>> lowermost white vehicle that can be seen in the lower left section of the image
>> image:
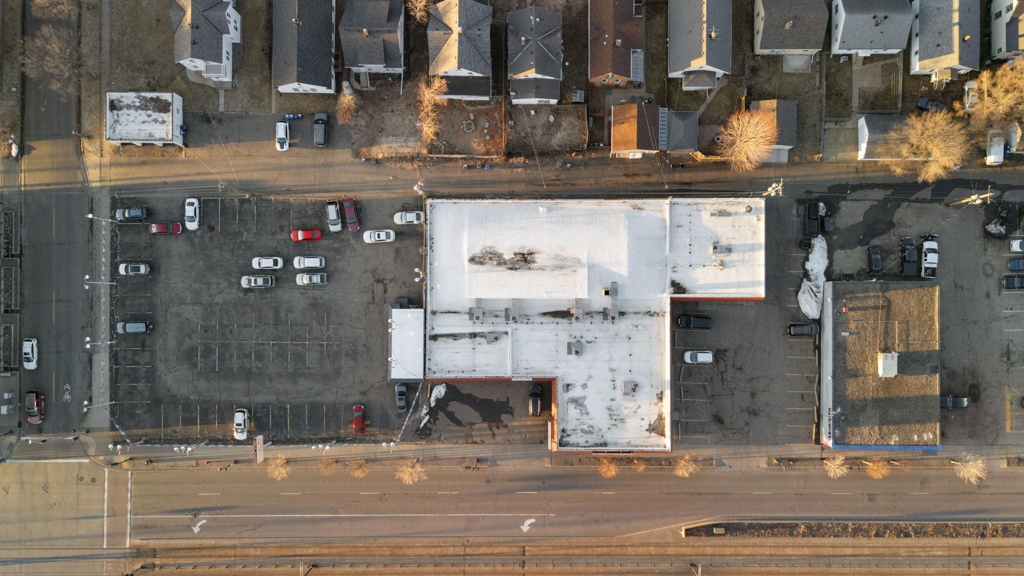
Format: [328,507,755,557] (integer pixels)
[233,408,250,438]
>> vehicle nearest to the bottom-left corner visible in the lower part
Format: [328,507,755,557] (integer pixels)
[26,390,46,423]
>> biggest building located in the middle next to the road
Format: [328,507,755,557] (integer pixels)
[425,198,766,454]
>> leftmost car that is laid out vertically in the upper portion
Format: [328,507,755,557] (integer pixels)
[186,199,201,230]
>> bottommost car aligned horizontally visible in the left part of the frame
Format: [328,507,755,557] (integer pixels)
[119,320,152,335]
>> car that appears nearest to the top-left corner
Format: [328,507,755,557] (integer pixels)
[118,207,149,222]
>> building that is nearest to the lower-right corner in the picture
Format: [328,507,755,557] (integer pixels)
[820,282,943,449]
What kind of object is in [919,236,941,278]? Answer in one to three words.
truck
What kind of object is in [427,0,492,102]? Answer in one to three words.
house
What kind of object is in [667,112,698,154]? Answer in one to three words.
building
